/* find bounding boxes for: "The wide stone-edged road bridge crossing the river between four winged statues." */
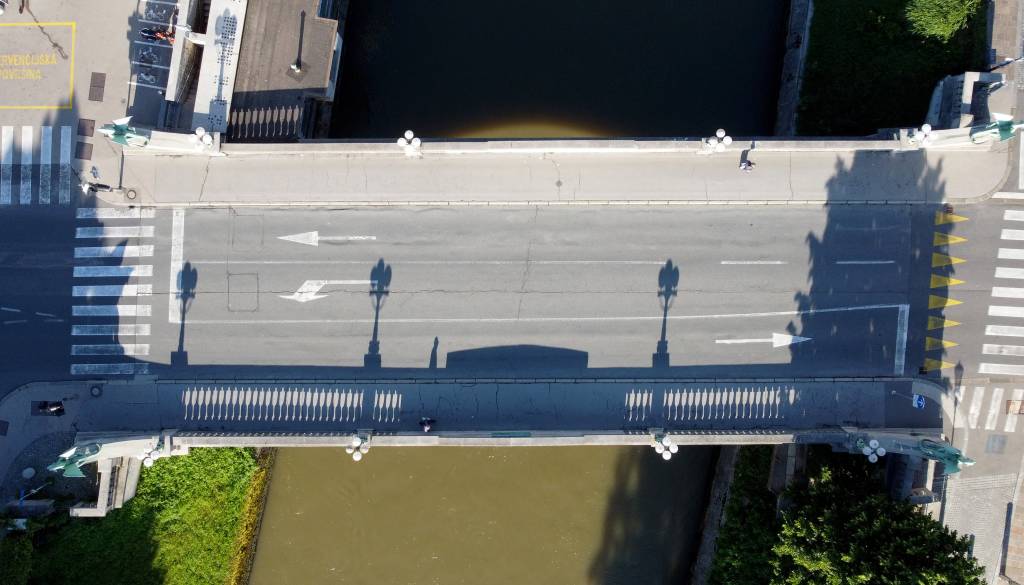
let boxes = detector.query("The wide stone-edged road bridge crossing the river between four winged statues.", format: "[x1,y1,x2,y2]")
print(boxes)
[122,139,1011,441]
